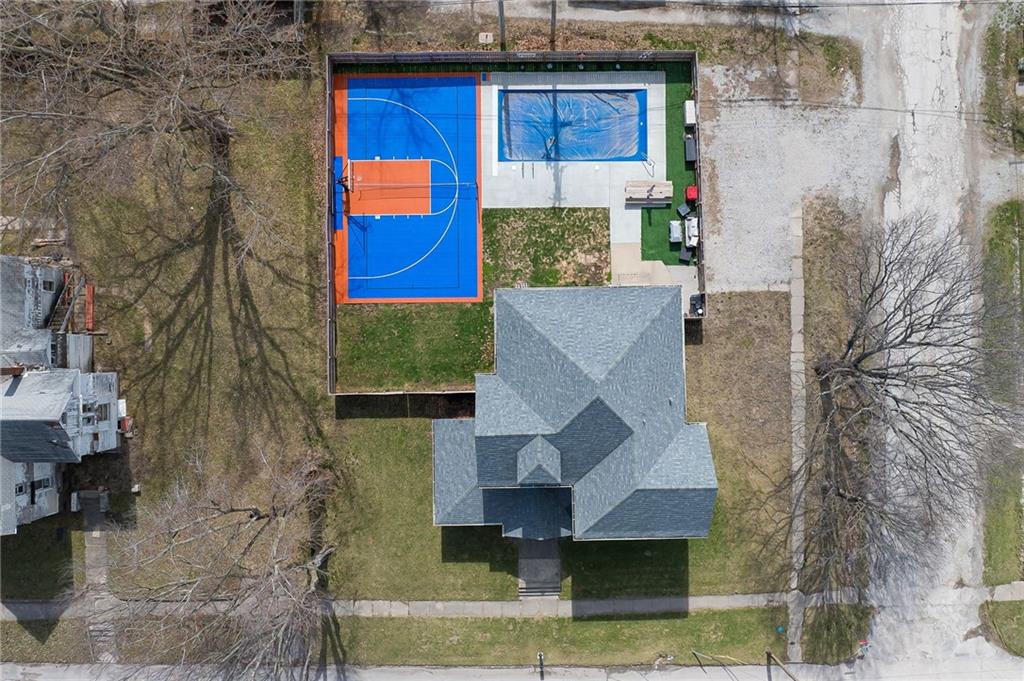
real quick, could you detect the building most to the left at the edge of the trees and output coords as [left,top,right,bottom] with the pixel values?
[0,259,120,537]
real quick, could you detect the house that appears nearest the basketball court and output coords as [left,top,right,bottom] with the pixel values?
[432,285,718,541]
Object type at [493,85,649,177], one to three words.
swimming pool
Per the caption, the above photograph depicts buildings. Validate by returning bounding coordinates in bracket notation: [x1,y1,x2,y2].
[432,285,718,541]
[0,259,120,537]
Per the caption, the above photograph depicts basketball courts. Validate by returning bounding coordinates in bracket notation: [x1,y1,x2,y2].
[335,72,483,303]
